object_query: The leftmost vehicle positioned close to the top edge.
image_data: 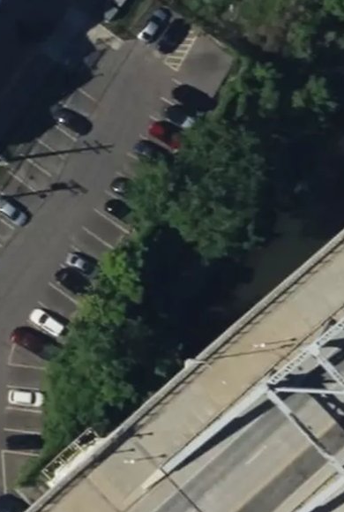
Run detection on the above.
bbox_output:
[137,9,169,45]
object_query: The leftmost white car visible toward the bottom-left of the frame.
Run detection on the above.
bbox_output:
[8,389,44,406]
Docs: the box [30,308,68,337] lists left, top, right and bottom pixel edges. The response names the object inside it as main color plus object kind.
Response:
white car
